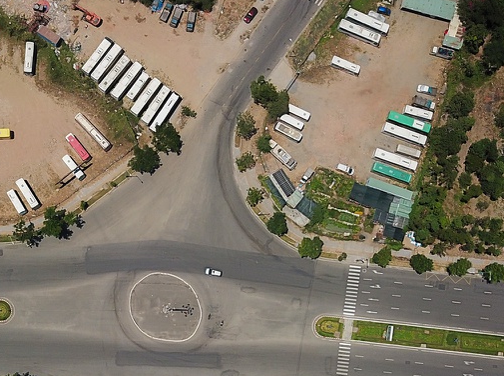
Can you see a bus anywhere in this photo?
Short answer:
Yes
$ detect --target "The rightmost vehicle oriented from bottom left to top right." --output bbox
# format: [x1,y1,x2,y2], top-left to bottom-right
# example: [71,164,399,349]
[299,167,317,186]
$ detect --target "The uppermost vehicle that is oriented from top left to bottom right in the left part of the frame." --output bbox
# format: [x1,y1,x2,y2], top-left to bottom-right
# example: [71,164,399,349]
[73,5,104,29]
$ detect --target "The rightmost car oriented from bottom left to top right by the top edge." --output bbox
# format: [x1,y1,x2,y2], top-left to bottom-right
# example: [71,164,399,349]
[244,7,259,24]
